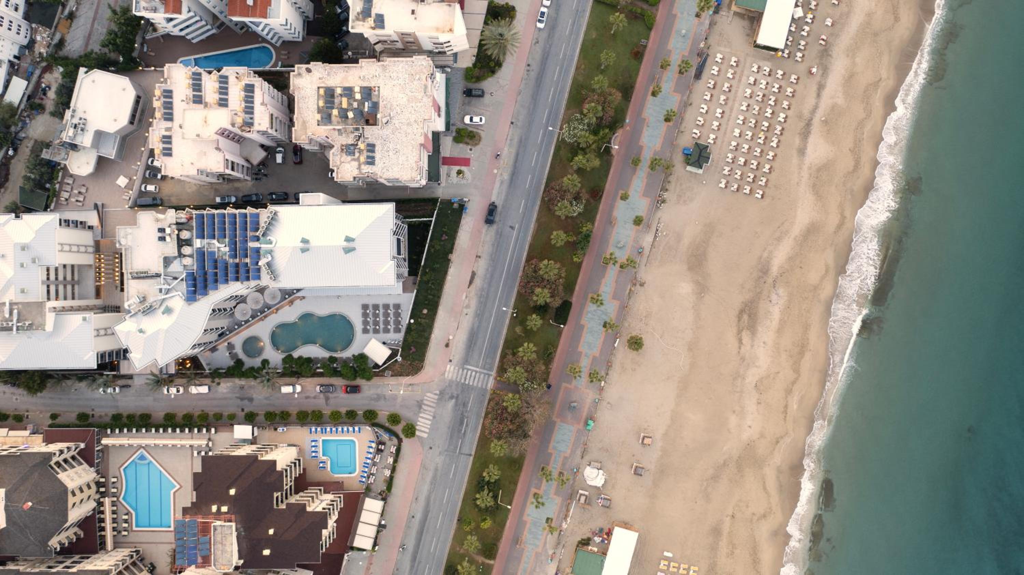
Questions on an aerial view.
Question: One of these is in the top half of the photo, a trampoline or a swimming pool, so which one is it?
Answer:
swimming pool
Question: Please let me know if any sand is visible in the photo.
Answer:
Yes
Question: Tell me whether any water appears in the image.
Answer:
Yes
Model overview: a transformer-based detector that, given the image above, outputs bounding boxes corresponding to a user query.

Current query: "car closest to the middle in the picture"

[485,203,497,224]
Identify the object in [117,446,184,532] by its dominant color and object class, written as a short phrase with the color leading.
blue swimming pool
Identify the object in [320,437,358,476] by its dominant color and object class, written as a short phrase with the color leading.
blue swimming pool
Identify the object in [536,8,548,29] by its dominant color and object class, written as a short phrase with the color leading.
white vehicle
